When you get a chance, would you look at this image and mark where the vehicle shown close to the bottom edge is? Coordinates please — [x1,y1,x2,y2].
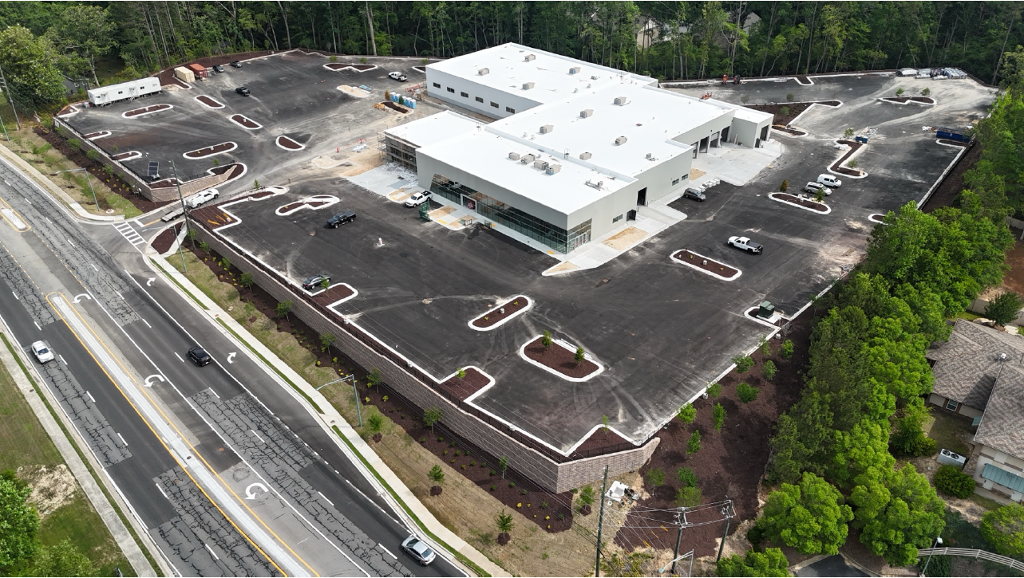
[398,533,437,565]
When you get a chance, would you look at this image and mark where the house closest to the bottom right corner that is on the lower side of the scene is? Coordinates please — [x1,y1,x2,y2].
[929,300,1024,481]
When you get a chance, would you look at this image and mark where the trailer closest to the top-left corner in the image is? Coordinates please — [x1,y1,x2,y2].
[87,76,160,105]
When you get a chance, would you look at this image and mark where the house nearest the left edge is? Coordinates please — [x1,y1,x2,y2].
[55,83,92,107]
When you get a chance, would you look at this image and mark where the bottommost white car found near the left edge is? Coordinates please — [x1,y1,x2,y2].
[30,339,51,360]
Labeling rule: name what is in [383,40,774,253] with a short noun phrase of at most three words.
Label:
building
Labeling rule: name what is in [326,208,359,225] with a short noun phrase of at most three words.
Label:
vehicle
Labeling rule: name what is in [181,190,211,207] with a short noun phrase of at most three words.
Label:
vehicle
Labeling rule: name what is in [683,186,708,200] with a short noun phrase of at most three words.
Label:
car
